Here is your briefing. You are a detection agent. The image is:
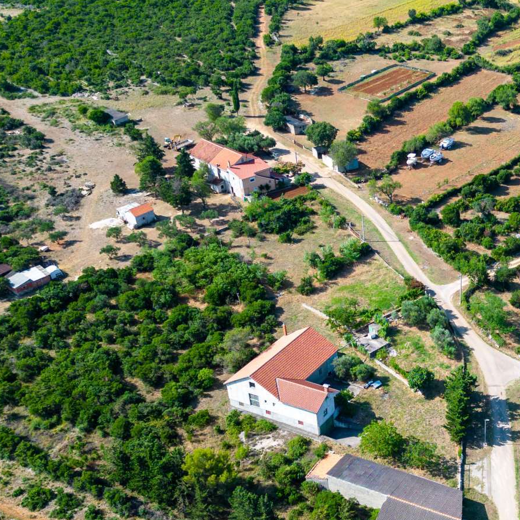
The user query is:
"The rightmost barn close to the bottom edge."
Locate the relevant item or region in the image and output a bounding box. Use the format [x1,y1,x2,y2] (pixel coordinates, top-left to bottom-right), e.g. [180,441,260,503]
[307,449,479,520]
